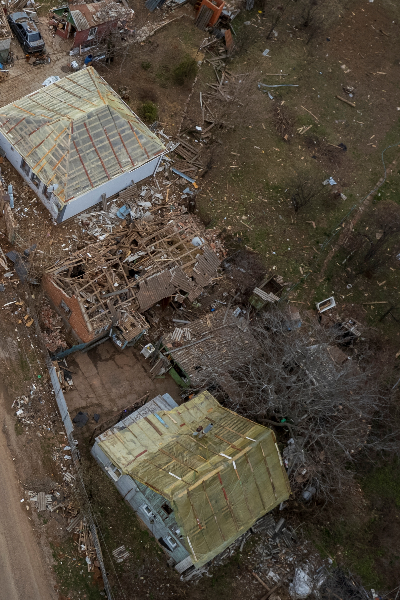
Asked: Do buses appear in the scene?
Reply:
No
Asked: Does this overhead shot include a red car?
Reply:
No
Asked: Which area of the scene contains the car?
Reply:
top left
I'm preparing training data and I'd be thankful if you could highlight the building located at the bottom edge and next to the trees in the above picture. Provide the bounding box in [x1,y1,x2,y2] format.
[87,393,292,574]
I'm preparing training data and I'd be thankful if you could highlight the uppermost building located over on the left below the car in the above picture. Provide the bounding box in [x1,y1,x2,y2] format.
[0,66,169,231]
